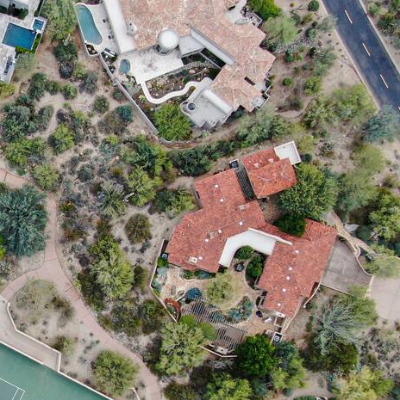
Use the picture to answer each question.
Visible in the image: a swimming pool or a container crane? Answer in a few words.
swimming pool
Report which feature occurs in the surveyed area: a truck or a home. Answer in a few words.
home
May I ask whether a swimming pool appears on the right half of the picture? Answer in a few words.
No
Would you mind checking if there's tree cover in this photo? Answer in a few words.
Yes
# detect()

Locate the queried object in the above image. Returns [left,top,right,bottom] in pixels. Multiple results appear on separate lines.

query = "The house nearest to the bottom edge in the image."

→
[167,141,338,317]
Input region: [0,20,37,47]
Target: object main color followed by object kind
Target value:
blue swimming pool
